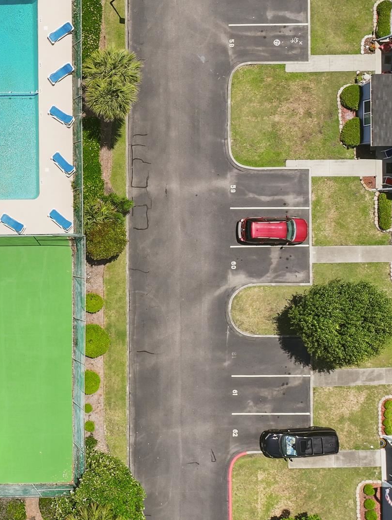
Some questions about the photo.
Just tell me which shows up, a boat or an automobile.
automobile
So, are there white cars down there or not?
No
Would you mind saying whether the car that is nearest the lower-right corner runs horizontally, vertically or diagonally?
horizontally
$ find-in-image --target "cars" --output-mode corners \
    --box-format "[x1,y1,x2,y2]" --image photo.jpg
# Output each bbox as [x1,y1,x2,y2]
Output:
[260,426,337,459]
[236,215,308,246]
